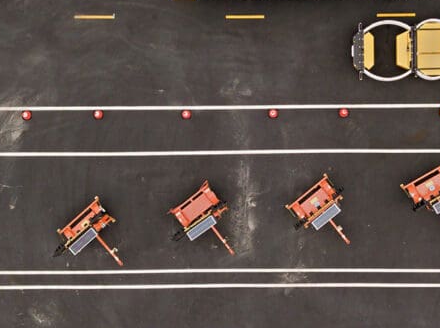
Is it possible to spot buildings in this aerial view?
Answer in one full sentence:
No, no building can be seen from above.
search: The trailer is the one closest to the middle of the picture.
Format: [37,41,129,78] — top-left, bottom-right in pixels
[167,178,235,253]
